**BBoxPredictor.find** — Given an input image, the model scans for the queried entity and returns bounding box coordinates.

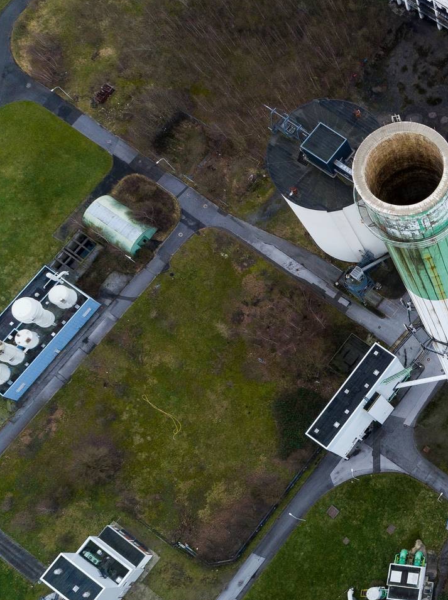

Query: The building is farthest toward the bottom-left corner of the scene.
[40,527,166,600]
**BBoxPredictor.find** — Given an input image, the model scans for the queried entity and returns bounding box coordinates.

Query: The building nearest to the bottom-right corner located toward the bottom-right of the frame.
[387,563,424,600]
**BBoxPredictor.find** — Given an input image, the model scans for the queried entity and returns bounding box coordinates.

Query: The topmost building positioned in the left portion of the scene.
[85,196,158,258]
